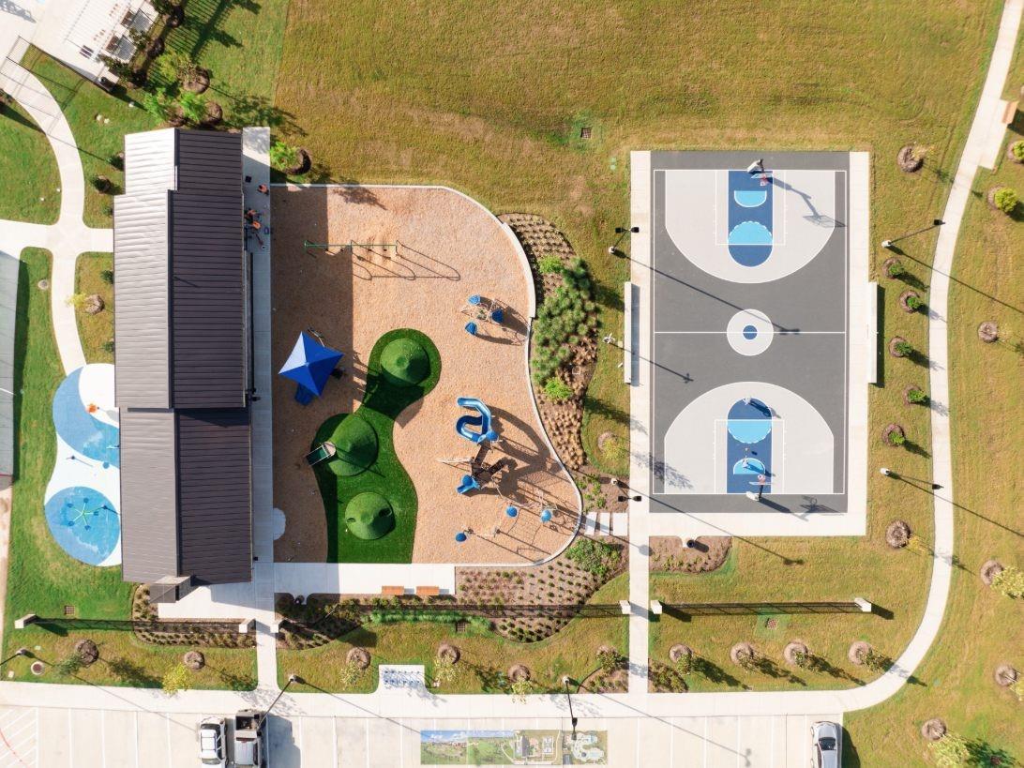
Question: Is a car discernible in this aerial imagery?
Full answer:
Yes, the picture does show a car.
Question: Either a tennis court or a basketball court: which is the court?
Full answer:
It turns out the court is a basketball court.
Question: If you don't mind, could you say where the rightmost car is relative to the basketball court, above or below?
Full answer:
In the image, the rightmost car sits below the basketball court.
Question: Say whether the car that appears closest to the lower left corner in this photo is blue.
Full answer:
No, the color of the car that appears closest to the lower left corner is white.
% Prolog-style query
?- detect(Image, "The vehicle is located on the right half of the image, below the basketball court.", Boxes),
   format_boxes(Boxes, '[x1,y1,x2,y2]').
[810,721,843,768]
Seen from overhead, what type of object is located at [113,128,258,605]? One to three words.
building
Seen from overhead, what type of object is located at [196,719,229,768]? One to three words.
car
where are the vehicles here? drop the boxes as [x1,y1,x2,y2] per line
[233,712,267,768]
[196,719,229,768]
[810,721,843,768]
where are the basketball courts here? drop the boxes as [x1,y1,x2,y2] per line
[630,150,869,536]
